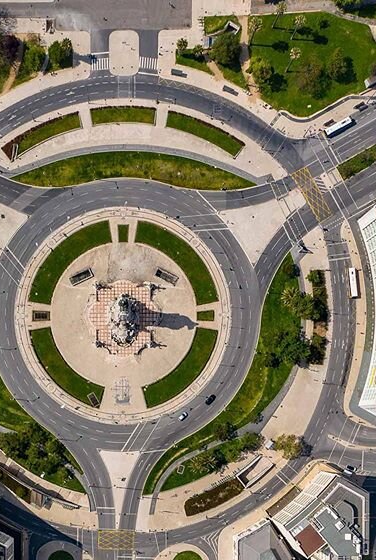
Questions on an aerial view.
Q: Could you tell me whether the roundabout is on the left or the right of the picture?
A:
left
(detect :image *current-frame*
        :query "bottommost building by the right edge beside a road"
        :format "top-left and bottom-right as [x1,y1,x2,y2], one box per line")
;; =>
[270,468,375,560]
